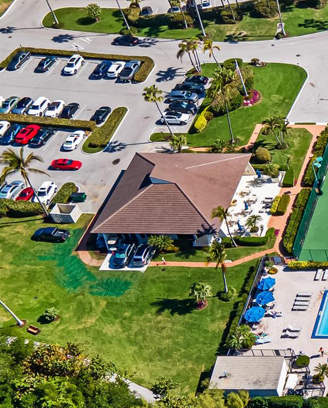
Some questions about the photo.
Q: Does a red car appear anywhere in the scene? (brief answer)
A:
Yes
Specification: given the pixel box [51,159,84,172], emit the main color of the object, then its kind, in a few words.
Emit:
red vehicle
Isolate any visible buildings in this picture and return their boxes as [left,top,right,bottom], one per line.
[207,355,291,400]
[91,152,273,252]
